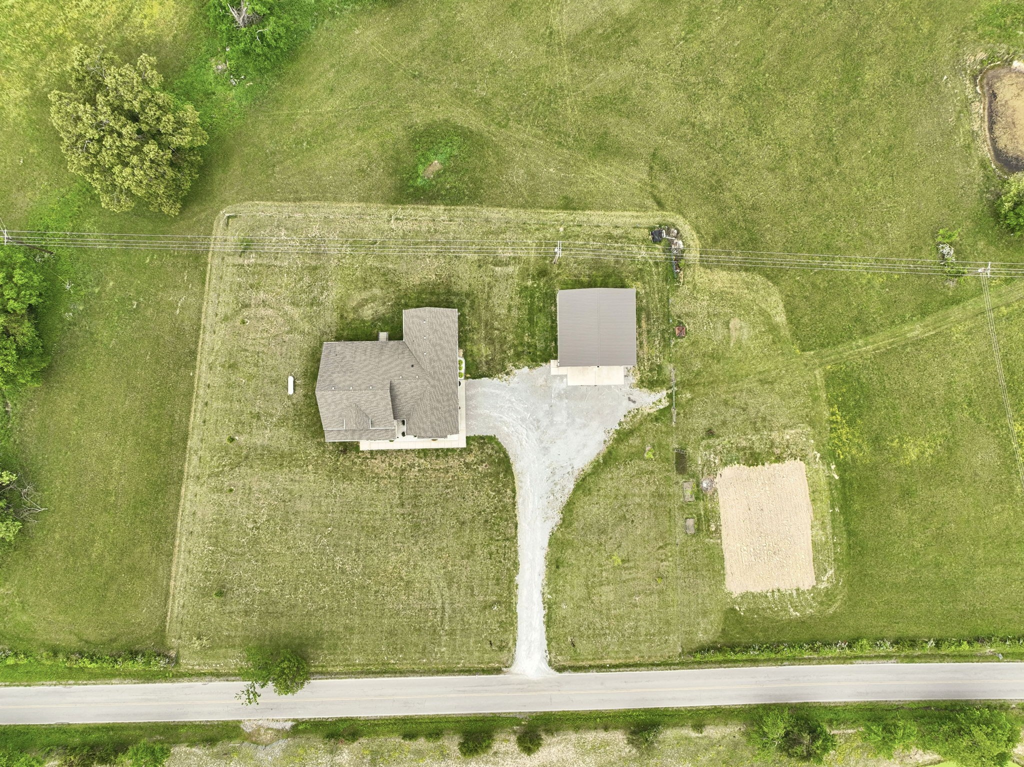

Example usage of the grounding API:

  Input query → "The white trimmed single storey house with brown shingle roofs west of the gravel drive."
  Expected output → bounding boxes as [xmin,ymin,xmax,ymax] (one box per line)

[315,307,460,442]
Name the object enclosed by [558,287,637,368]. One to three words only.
barn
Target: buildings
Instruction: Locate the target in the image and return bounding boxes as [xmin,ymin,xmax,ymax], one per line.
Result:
[558,287,637,368]
[315,307,460,442]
